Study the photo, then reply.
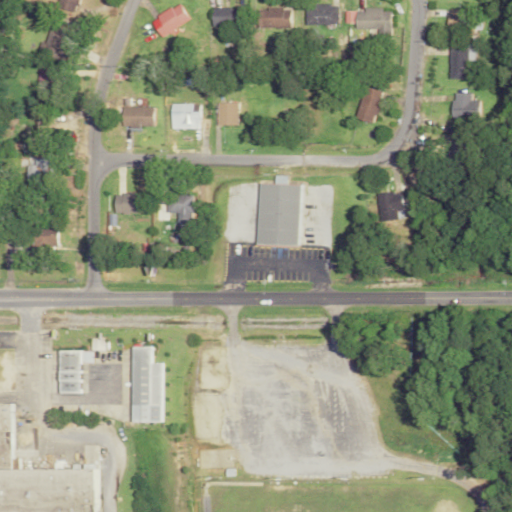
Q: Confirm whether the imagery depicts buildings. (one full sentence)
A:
Yes, there's a building down there.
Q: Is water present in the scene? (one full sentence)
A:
No, water can't be seen anywhere here.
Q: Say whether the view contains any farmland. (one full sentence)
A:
No, the picture contains no farmland.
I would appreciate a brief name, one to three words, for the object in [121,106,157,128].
house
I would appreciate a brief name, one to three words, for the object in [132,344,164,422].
shed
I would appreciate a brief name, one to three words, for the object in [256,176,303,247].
building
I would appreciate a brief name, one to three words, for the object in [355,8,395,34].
house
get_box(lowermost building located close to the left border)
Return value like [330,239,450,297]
[0,470,102,512]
